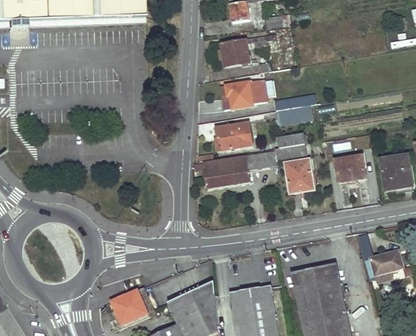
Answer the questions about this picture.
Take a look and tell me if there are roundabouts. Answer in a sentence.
Yes, a roundabout is visible in the scene.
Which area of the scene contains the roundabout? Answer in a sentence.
Look in the bottom left portion of the view to spot the roundabout.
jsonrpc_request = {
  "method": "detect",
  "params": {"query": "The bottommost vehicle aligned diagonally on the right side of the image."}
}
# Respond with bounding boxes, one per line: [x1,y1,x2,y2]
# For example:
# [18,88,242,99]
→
[350,304,368,319]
